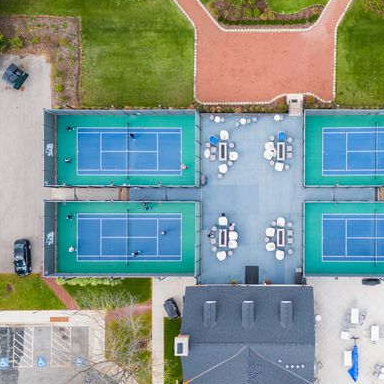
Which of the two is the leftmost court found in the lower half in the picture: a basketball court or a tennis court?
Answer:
tennis court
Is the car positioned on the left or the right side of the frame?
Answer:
left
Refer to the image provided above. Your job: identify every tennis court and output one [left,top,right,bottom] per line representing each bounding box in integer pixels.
[58,115,200,186]
[58,202,201,274]
[303,202,384,274]
[304,114,384,186]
